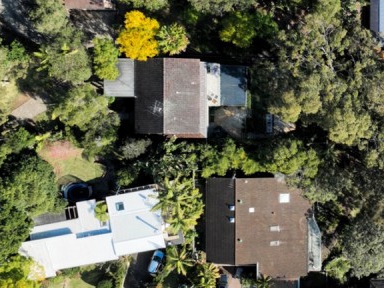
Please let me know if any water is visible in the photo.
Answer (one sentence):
No, there's no water in this view.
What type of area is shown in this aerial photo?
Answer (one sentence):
The area seen from above is a residential area.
